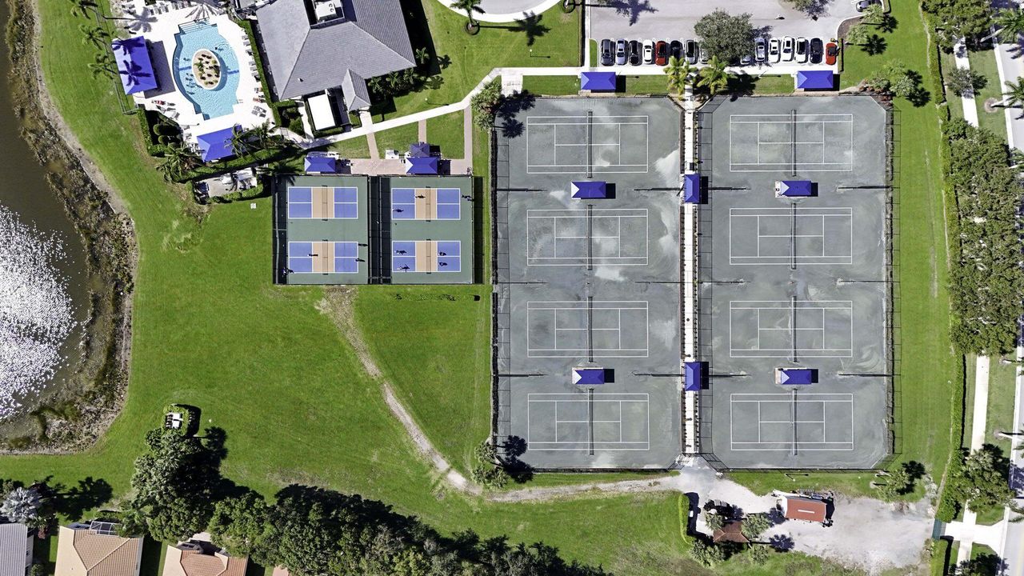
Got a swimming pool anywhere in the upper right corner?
No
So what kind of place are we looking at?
sports ground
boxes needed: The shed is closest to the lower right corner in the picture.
[780,495,827,523]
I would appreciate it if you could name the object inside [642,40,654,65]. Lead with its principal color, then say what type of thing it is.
white vehicle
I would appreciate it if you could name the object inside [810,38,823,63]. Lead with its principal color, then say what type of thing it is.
black vehicle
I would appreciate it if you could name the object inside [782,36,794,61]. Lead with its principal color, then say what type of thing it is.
white vehicle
